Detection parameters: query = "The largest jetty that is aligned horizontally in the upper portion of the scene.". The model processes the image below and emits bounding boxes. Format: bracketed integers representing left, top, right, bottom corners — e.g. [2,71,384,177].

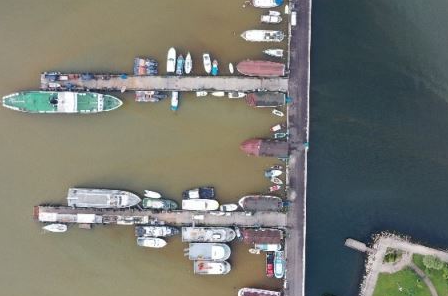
[40,73,289,92]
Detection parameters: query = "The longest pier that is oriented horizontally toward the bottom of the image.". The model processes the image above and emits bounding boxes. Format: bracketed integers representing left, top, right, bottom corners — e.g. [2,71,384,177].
[41,205,287,227]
